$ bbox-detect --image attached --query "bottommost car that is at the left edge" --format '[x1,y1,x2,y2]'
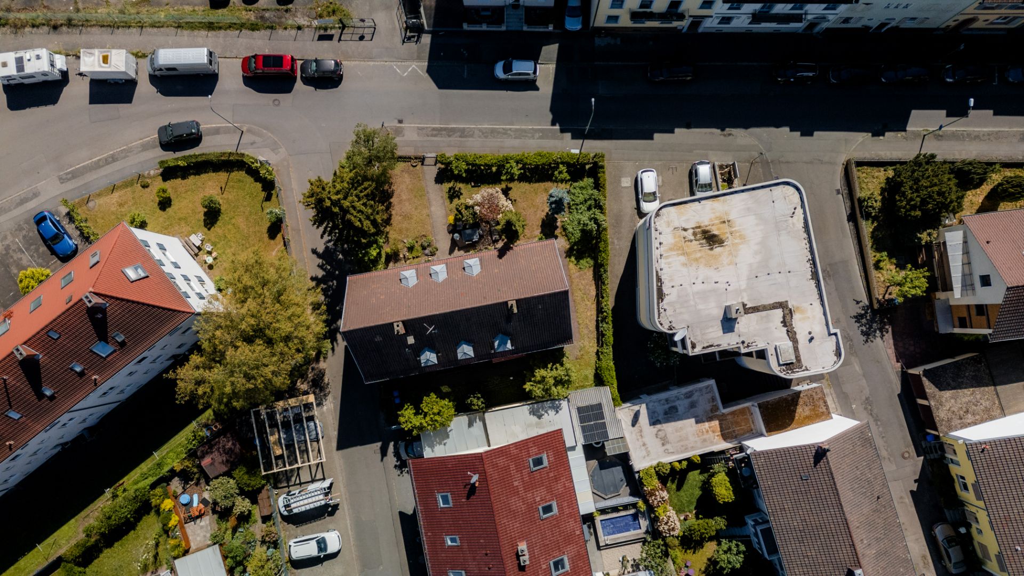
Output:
[29,212,74,259]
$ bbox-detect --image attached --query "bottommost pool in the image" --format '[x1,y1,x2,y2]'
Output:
[593,506,647,551]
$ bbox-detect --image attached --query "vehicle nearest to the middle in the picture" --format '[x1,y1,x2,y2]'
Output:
[638,169,663,214]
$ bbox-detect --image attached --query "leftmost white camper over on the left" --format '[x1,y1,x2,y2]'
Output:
[0,49,71,87]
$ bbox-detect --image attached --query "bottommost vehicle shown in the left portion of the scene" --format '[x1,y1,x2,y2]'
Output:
[286,532,340,561]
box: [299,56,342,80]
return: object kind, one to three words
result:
car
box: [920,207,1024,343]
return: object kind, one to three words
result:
house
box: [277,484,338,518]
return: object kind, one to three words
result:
van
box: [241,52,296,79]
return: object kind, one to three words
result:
vehicle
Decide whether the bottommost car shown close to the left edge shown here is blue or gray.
blue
